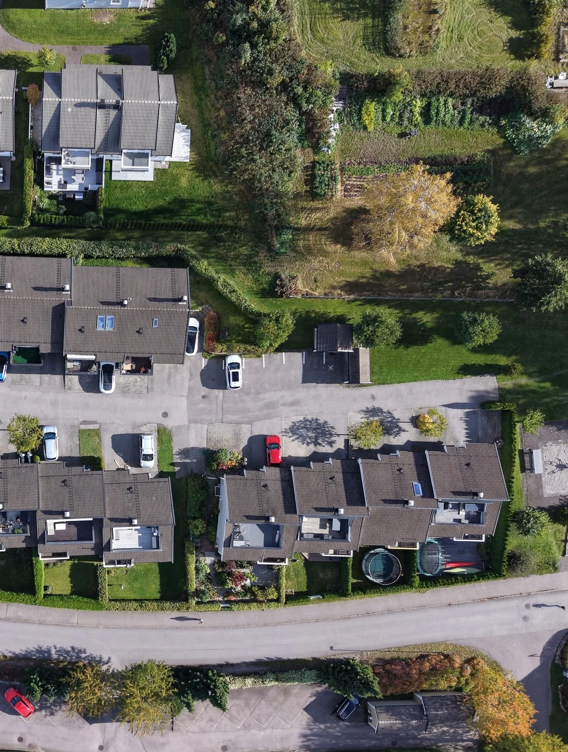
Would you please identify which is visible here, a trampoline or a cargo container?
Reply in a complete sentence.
Visible in the photo is a trampoline.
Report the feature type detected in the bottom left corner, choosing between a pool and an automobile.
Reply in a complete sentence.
There is an automobile in the bottom left corner.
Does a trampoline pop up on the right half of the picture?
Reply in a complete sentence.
Yes, on the right half of the picture there is a trampoline.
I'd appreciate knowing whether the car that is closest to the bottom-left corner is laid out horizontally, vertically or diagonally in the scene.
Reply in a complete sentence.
Seen from above, the car that is closest to the bottom-left corner lies diagonally.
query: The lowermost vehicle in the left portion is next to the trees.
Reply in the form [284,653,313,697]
[6,687,33,719]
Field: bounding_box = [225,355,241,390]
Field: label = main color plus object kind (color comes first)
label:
white car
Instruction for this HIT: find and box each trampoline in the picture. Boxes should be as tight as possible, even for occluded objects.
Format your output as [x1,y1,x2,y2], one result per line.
[417,540,446,575]
[363,551,401,586]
